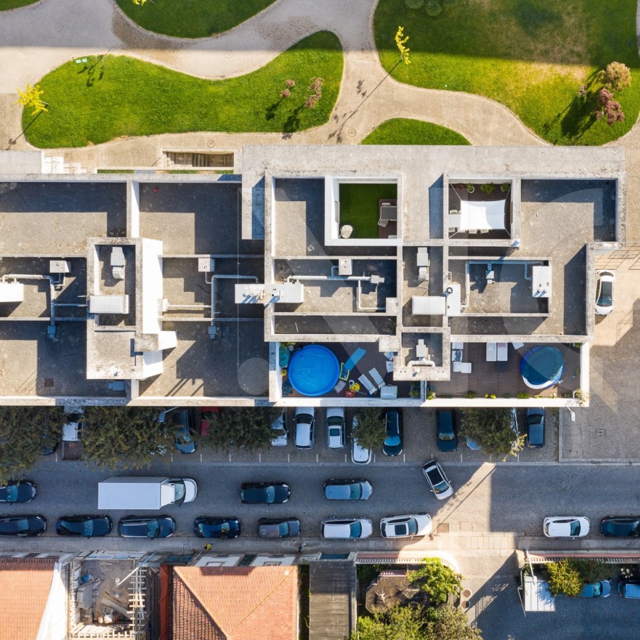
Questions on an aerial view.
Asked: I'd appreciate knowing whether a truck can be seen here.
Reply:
Yes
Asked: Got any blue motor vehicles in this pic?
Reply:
Yes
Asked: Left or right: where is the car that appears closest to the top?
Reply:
right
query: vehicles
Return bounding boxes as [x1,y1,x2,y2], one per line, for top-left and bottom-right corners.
[349,414,373,463]
[292,406,317,449]
[34,407,62,455]
[617,578,640,603]
[422,459,454,502]
[323,477,373,503]
[434,406,460,453]
[56,514,114,540]
[175,406,198,455]
[268,406,289,446]
[543,515,590,541]
[321,515,373,541]
[381,406,406,456]
[599,515,640,541]
[240,481,291,507]
[570,578,615,604]
[117,515,178,541]
[99,477,208,510]
[380,513,432,540]
[595,269,618,316]
[0,513,49,539]
[524,406,549,448]
[258,516,301,541]
[193,515,242,541]
[0,479,37,505]
[59,406,85,441]
[322,406,348,450]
